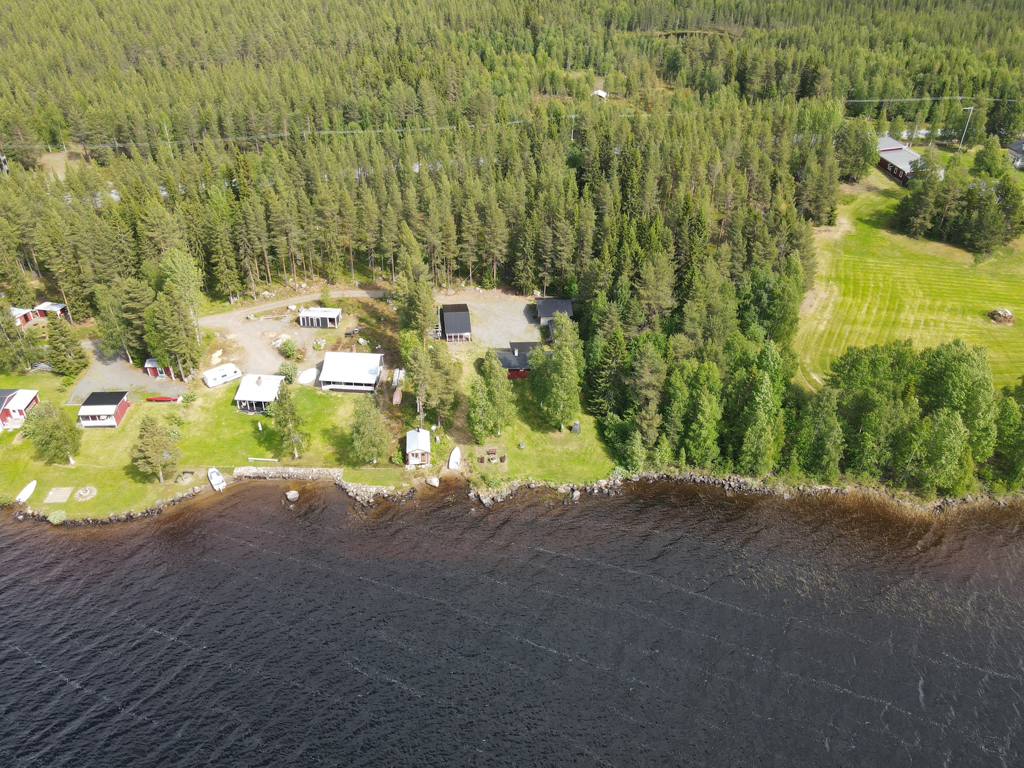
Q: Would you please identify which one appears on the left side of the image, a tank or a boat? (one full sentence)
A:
You can see a boat on the left side of the image.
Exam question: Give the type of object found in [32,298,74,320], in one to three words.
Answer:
shed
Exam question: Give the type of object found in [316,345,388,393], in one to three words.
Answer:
building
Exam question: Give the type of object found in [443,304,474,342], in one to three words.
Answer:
building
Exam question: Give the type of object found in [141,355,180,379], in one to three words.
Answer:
shed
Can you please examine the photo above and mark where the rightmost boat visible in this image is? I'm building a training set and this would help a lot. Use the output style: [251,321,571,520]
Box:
[449,442,463,468]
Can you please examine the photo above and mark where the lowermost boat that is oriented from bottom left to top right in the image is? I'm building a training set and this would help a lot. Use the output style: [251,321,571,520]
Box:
[12,476,35,510]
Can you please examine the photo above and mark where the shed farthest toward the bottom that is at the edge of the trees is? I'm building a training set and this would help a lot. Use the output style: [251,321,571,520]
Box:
[405,424,429,465]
